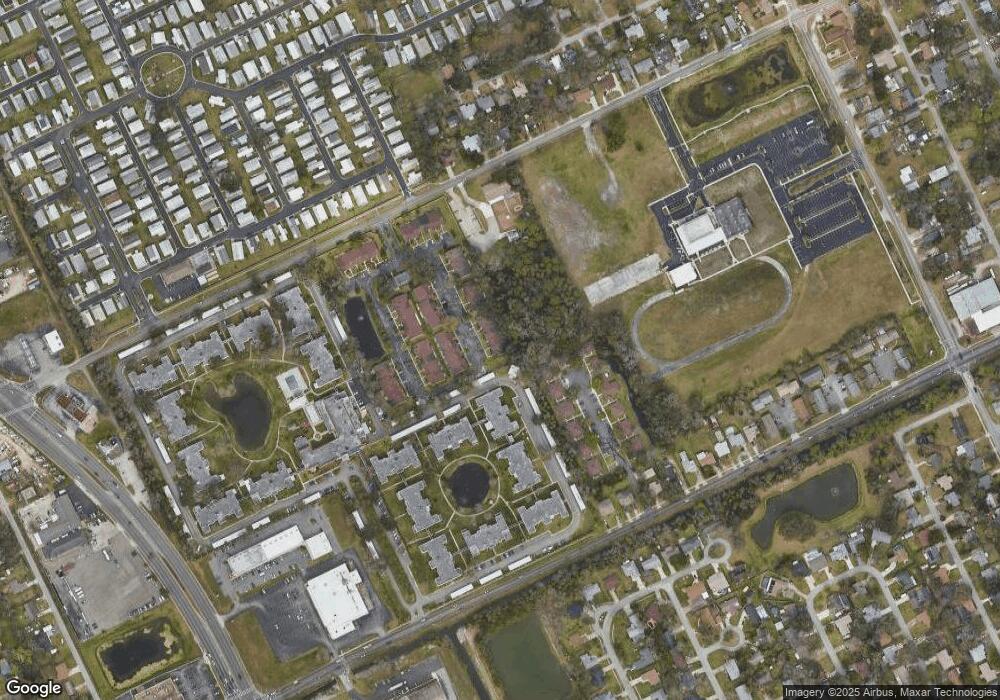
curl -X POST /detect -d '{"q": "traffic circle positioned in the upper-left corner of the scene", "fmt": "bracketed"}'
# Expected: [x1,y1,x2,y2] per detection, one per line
[132,43,194,105]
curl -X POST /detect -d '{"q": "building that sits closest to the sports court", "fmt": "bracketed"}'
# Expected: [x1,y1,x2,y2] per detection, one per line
[669,262,697,287]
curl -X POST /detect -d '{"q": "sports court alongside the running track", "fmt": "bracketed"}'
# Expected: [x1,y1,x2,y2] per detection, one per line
[584,253,661,305]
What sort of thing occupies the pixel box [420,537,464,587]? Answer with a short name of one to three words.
building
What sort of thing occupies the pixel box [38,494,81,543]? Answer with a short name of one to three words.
shed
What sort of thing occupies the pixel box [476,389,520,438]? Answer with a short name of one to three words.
building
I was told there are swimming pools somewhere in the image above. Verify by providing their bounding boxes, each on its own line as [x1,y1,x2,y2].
[276,367,309,401]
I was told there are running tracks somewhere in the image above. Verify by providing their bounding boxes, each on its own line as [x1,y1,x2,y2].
[633,255,791,381]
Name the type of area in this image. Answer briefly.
residential area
